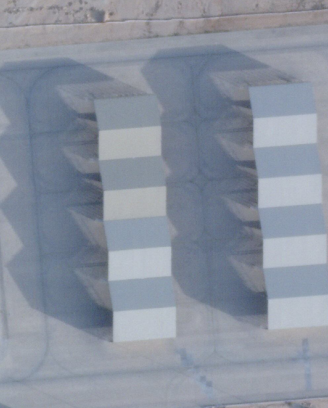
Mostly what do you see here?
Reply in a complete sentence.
The bulk of the photo consists of paved ground.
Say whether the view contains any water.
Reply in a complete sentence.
No, the scene doesn't show any water.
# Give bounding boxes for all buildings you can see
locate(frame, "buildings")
[243,83,328,330]
[88,95,175,342]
